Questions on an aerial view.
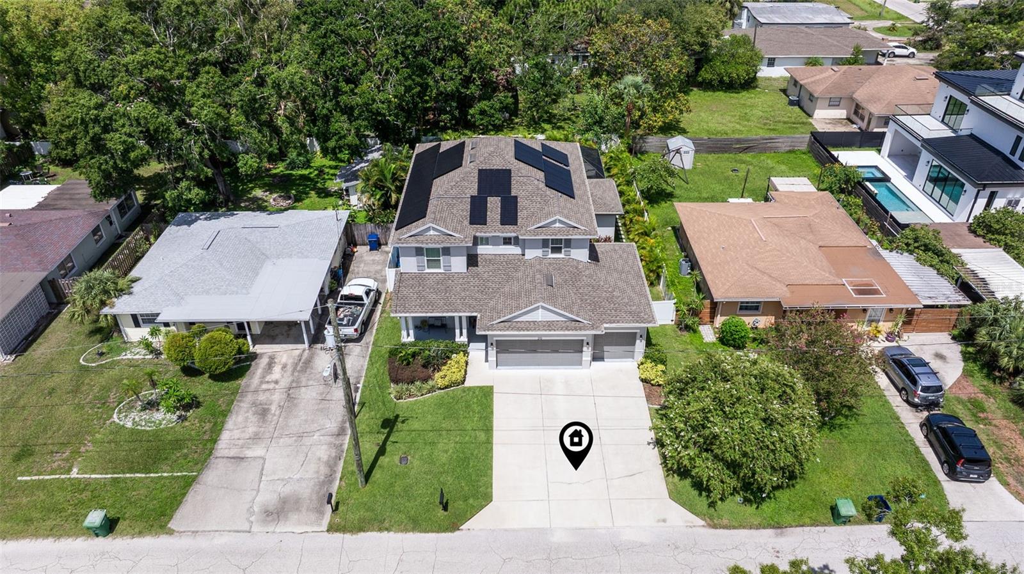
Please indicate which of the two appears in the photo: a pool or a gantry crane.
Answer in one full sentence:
The one in the frame is a pool.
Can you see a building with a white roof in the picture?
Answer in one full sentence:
Yes, a building with a white roof appears in the view.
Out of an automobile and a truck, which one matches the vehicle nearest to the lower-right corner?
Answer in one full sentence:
Specifically, the vehicle nearest to the lower-right corner is an automobile.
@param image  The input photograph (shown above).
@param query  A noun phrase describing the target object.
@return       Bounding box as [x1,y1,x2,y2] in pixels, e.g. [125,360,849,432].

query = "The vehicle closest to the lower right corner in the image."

[915,413,997,490]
